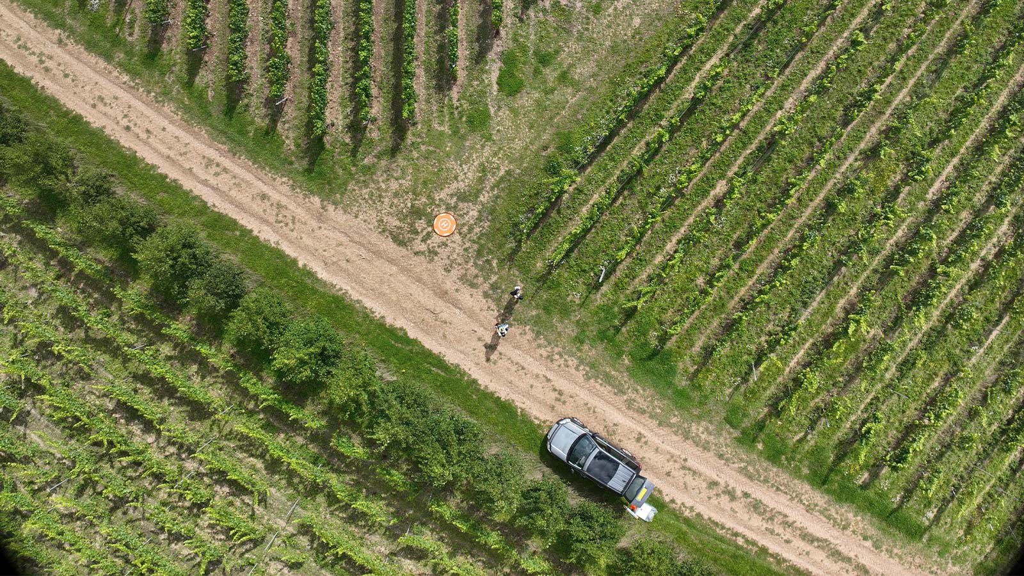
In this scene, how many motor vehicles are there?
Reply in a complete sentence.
I count 1 motor vehicle.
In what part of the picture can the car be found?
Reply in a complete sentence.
The car sits in the bottom section of the image.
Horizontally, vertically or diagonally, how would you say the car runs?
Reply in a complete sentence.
From this overhead view, the car appears to run diagonally.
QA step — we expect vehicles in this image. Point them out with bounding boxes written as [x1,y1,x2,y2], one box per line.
[546,416,655,507]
